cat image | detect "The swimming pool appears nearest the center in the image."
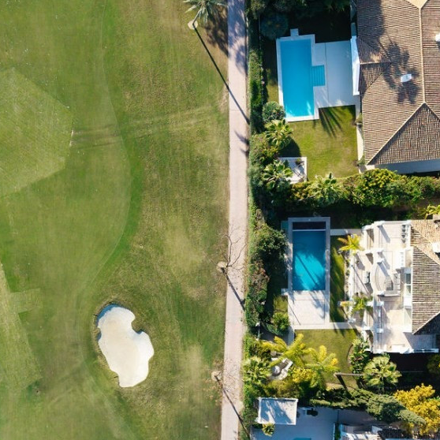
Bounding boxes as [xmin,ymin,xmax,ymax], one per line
[289,217,331,294]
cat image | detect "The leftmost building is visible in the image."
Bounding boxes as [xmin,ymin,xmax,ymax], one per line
[254,398,298,425]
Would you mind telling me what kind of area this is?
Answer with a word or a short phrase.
golf course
